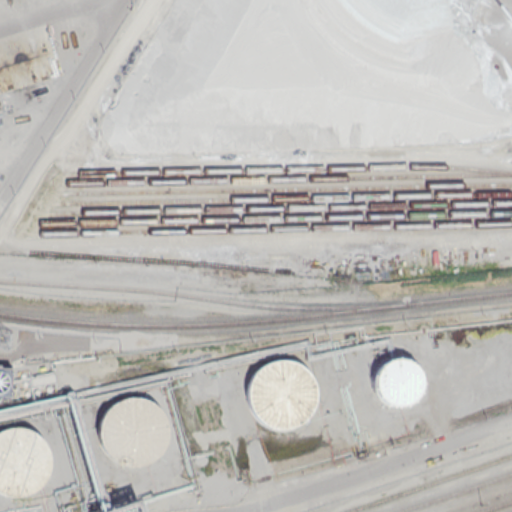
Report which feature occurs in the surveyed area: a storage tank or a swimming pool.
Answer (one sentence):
Looking from above, you can make out a storage tank.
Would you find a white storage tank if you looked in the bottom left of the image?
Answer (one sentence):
Yes, a white storage tank shows up in the bottom left of the image.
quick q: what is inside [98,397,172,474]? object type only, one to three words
storage tank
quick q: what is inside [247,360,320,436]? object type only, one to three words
storage tank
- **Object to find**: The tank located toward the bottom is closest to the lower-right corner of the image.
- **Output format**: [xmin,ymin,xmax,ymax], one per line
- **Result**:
[372,358,426,414]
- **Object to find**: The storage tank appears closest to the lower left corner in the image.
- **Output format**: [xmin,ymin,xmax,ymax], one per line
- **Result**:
[0,427,54,502]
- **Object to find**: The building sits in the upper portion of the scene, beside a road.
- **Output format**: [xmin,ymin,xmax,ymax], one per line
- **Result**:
[0,24,60,91]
